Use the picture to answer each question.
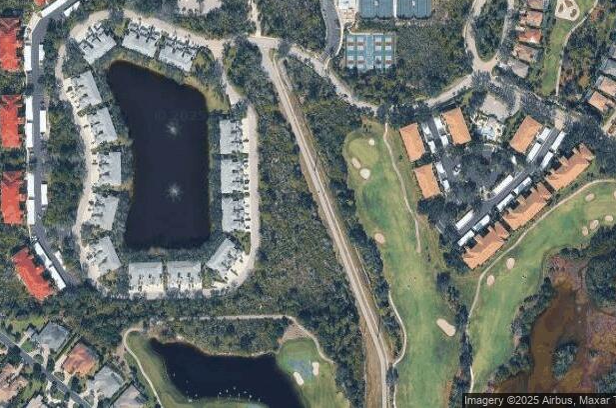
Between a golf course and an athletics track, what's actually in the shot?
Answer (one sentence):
Looking from above, you can make out a golf course.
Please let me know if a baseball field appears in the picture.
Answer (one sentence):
No, I find no baseball field anywhere in the image.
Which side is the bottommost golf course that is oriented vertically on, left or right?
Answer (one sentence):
It is on the right.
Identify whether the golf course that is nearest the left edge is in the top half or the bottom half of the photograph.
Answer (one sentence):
Seen from above, the golf course that is nearest the left edge lies in the bottom half of the view.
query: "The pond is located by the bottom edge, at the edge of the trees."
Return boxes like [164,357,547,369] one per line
[488,293,597,408]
